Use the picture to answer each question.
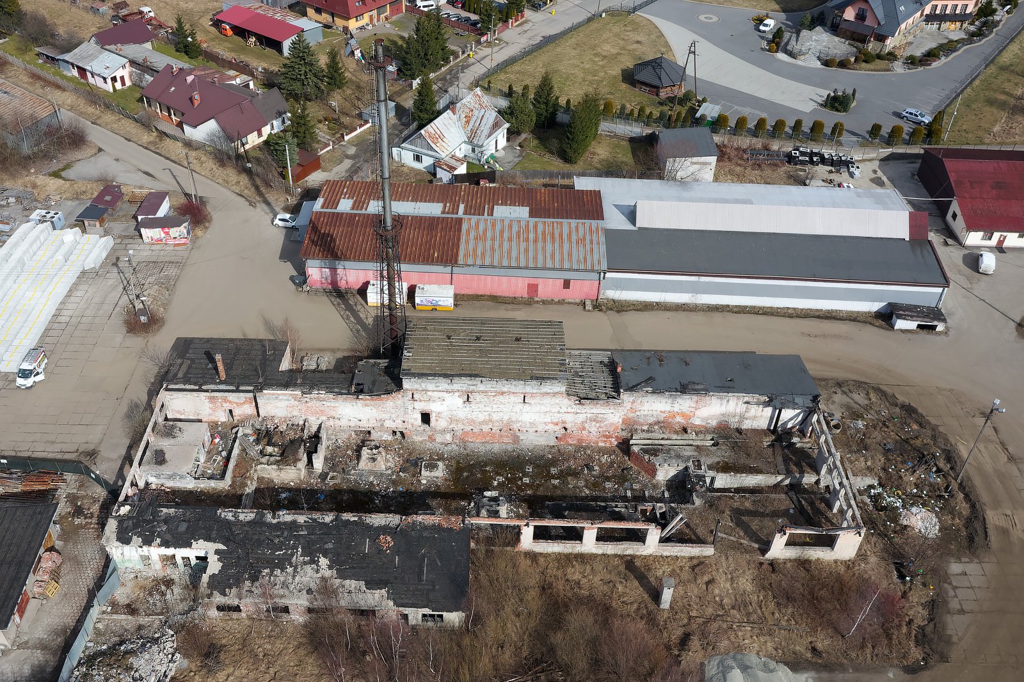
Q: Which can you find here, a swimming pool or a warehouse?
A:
warehouse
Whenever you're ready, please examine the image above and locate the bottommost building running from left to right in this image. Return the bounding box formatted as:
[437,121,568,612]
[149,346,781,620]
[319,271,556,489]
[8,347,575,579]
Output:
[96,316,879,631]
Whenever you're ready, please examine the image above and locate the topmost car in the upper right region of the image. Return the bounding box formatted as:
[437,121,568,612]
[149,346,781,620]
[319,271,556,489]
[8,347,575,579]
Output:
[758,16,777,33]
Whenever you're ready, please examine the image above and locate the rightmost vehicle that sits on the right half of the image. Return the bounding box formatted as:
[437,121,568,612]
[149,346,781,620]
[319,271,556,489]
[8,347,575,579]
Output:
[978,244,1000,270]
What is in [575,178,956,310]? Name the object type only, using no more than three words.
warehouse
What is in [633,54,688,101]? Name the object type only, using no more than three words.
gazebo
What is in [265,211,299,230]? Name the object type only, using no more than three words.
car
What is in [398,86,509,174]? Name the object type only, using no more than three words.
house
